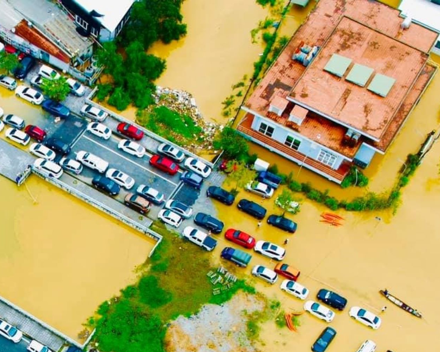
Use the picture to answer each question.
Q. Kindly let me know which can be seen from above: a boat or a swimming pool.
boat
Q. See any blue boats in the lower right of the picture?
No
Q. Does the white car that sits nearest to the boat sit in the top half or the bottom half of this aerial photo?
bottom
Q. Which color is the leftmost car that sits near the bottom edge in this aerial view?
white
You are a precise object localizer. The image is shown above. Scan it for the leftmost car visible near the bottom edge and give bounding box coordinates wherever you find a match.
[0,318,24,345]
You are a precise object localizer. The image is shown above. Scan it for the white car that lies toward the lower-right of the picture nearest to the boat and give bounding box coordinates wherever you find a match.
[348,308,383,330]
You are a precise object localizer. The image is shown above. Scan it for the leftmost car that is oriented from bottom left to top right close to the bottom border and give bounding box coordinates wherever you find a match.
[312,324,338,352]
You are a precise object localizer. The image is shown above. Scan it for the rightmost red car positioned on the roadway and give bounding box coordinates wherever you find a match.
[149,157,181,176]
